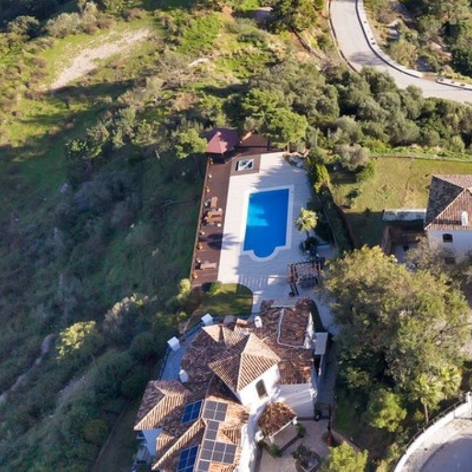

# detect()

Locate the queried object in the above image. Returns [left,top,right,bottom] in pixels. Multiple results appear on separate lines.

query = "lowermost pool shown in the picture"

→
[240,185,294,262]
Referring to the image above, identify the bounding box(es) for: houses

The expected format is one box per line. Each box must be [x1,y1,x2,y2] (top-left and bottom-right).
[131,298,327,472]
[411,174,472,273]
